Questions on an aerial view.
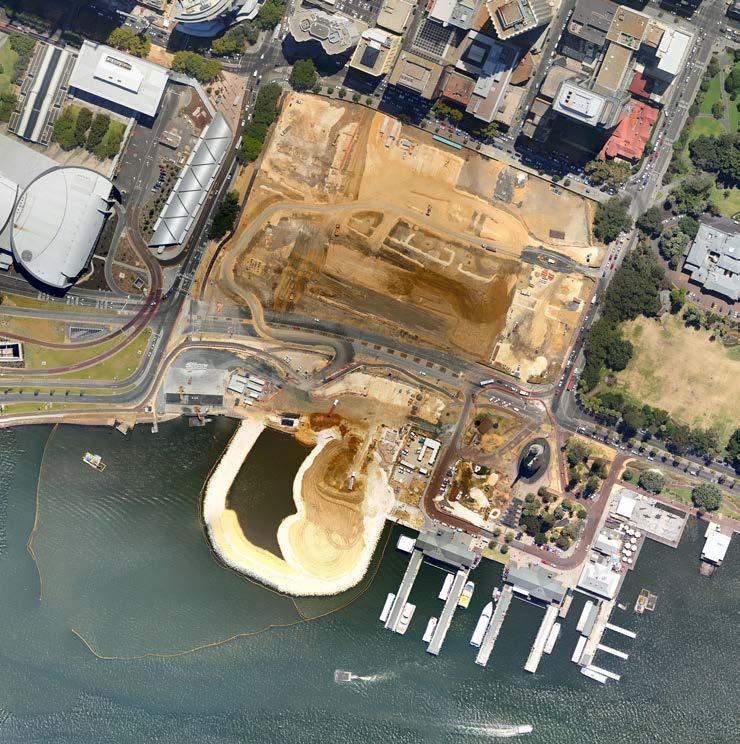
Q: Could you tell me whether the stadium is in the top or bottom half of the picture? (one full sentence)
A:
The stadium is in the top half of the image.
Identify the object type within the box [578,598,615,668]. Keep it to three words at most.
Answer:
pier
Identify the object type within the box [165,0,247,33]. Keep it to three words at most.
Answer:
building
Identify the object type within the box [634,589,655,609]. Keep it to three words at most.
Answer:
ship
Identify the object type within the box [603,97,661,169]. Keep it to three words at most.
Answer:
house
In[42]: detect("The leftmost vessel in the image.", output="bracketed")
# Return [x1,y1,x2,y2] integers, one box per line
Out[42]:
[84,453,107,471]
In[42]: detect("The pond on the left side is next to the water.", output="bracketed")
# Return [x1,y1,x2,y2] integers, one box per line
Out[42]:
[226,424,320,562]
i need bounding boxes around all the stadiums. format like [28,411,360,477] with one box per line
[10,163,120,290]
